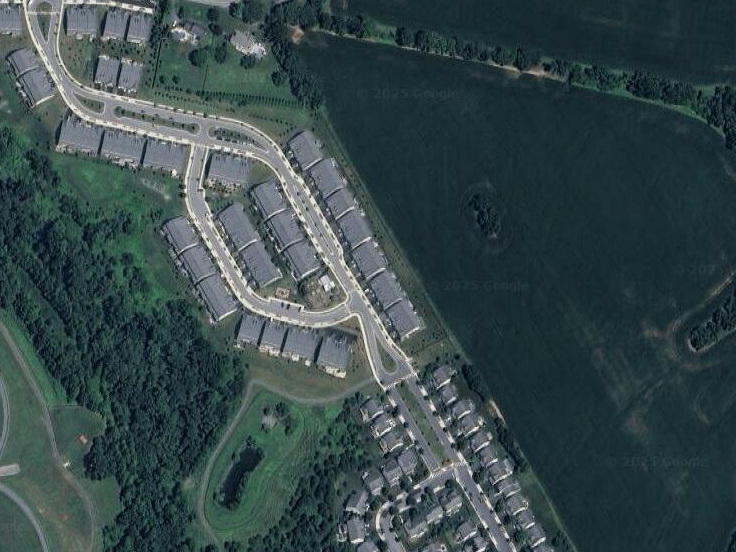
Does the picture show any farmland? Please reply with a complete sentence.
Yes, the picture does contain farmland.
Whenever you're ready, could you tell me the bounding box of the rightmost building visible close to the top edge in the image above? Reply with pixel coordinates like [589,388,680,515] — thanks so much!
[228,27,253,51]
